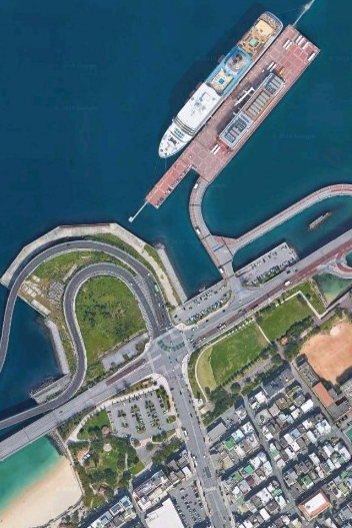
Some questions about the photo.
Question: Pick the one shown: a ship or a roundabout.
ship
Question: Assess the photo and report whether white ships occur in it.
Yes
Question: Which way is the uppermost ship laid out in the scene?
diagonally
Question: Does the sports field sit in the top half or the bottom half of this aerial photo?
bottom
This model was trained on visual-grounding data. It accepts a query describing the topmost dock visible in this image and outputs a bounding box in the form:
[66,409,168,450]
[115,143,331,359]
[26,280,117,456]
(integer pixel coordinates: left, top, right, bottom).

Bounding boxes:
[146,25,321,209]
